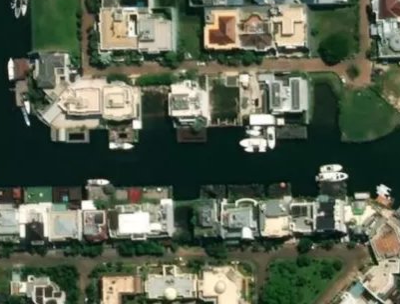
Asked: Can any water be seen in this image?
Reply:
Yes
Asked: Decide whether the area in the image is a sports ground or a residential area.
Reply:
residential area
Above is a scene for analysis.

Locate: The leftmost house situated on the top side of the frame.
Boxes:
[35,53,70,104]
